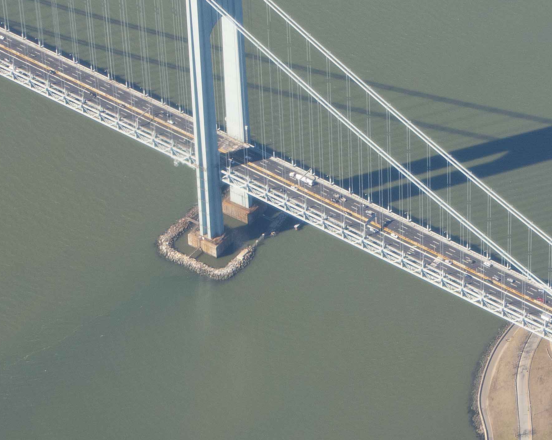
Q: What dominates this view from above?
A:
water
